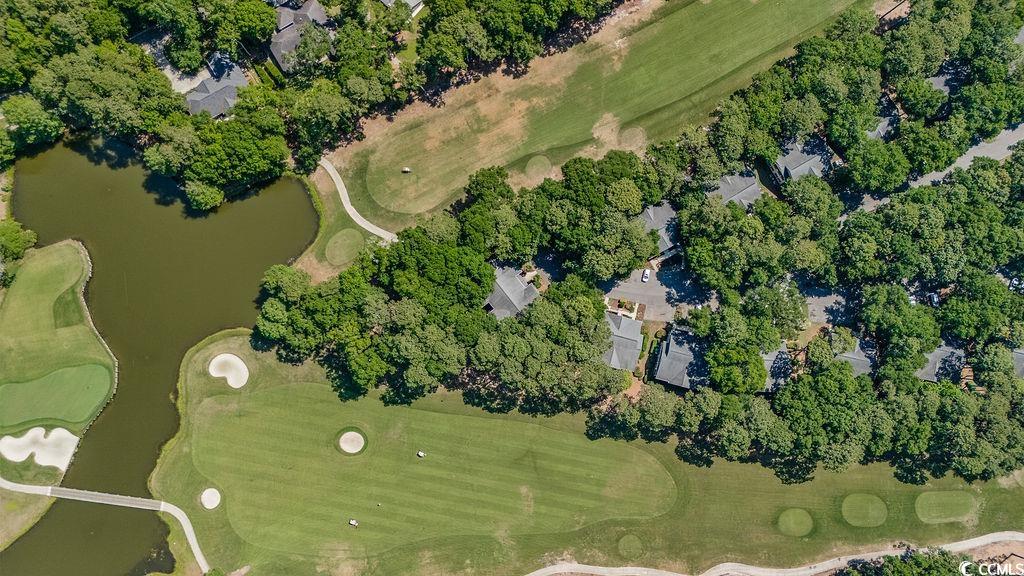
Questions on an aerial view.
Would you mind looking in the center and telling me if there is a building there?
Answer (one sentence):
Yes, there is a building in the center.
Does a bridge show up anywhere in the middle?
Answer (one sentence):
No, looking in the middle, there is no bridge.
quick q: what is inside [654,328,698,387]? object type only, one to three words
house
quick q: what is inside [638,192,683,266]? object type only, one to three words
house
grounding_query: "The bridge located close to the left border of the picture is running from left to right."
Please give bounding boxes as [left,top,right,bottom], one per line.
[47,486,164,512]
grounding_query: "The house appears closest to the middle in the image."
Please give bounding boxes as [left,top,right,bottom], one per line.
[479,264,553,322]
